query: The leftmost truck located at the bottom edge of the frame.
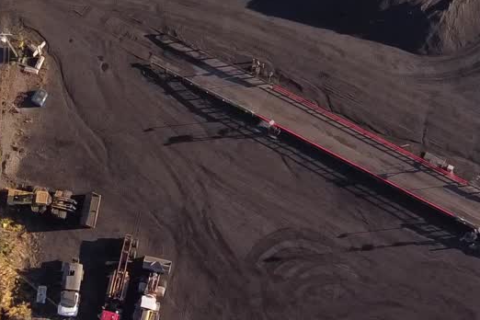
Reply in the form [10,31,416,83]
[56,258,84,320]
